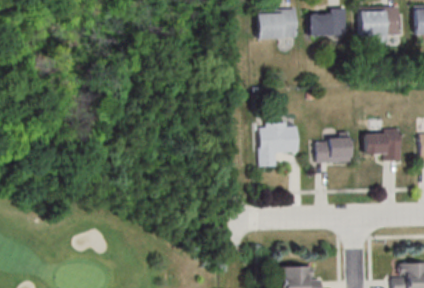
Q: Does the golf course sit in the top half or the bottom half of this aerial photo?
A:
bottom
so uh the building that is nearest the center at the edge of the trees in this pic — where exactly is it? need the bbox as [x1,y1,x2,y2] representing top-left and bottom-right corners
[258,122,300,167]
